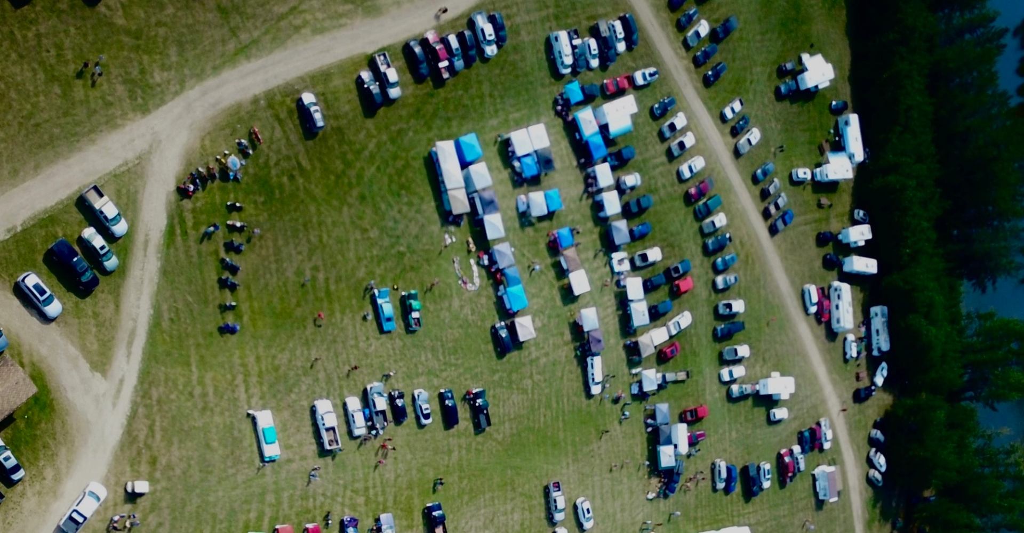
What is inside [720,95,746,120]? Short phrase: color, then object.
white truck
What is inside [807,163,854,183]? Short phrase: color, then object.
white camper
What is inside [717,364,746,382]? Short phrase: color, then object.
white car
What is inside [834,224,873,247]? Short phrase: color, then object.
white trailer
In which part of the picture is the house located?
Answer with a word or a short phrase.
bottom left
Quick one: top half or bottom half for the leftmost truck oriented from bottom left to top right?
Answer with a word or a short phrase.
bottom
